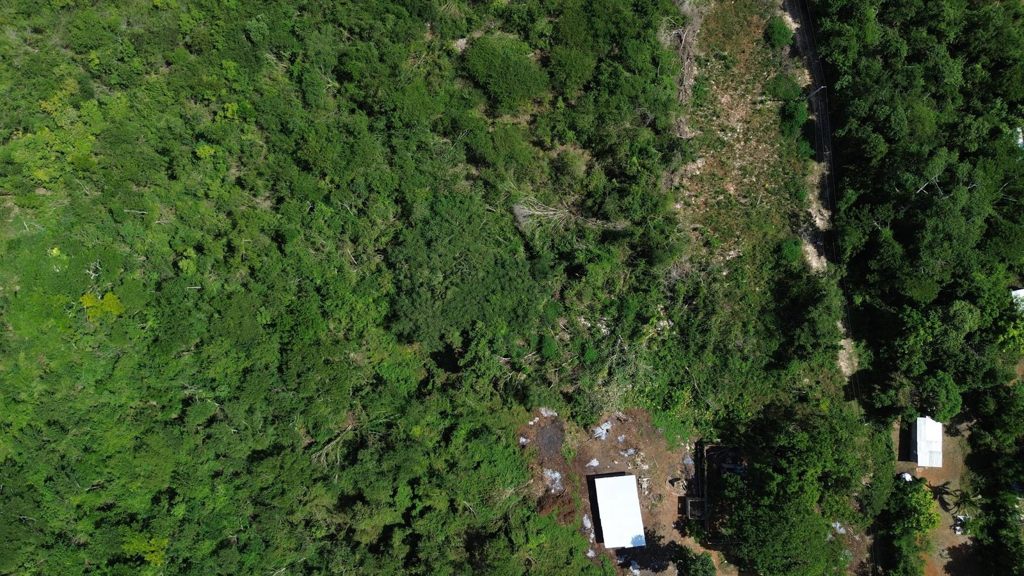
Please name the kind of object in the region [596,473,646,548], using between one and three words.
shed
